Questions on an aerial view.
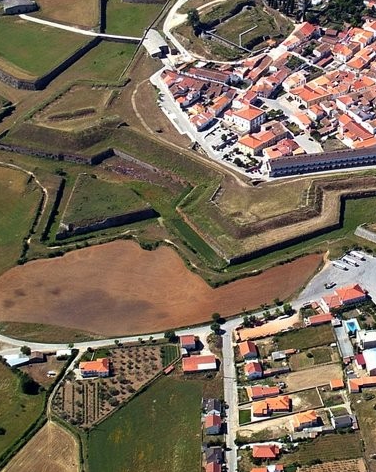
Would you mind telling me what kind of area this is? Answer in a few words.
residential area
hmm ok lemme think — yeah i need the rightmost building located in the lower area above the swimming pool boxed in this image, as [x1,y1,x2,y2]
[323,285,366,314]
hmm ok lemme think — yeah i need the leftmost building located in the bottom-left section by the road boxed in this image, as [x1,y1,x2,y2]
[3,346,31,372]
